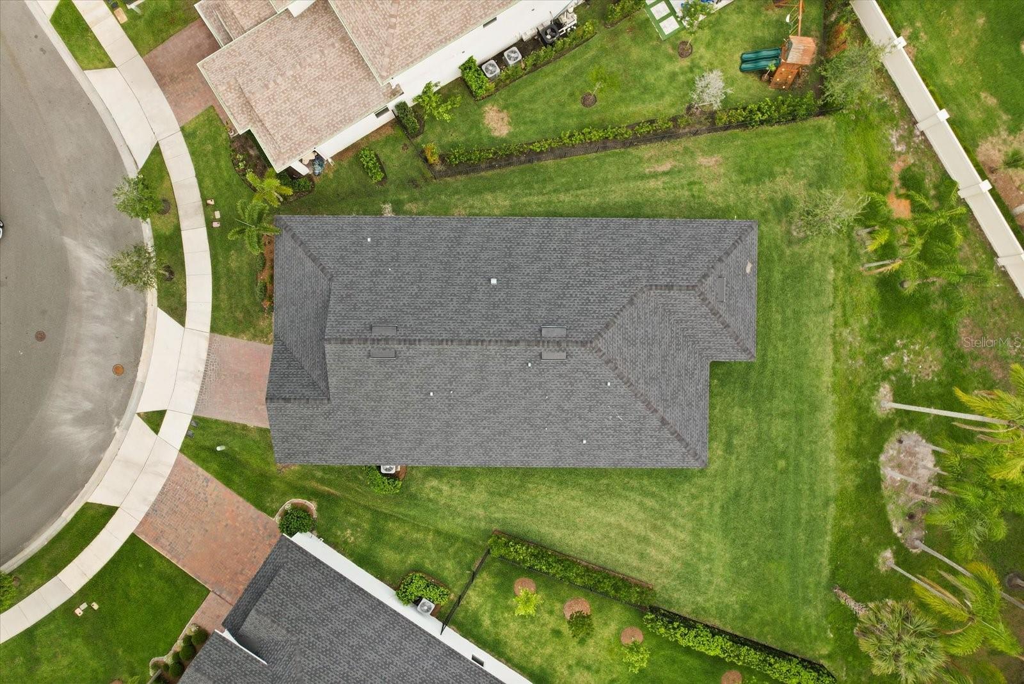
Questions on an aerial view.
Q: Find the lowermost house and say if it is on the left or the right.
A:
left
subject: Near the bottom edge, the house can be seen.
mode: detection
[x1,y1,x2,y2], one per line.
[175,531,534,684]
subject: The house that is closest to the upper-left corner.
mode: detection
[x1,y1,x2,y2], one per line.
[196,0,579,176]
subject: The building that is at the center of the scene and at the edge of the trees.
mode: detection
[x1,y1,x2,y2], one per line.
[264,214,759,469]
